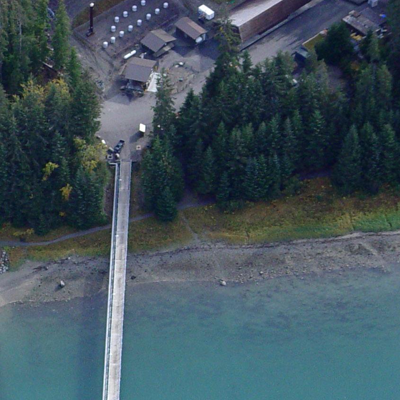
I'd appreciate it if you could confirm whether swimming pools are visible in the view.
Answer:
No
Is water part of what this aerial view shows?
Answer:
Yes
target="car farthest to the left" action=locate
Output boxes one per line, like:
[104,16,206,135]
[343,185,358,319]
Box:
[112,140,125,154]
